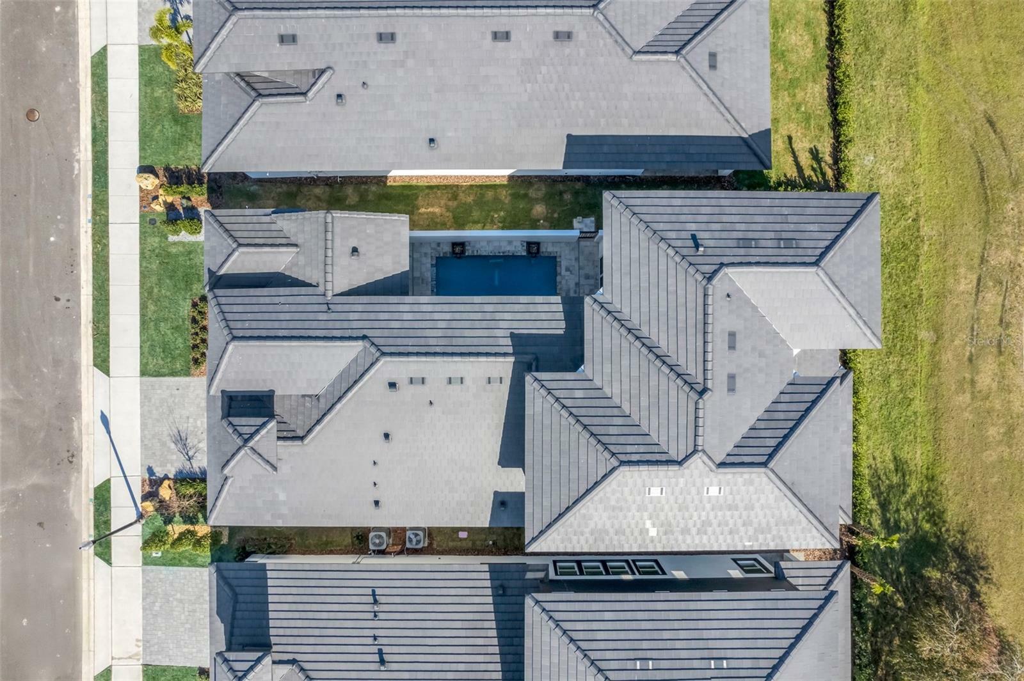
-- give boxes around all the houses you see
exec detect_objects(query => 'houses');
[192,0,773,178]
[208,552,854,681]
[202,189,885,554]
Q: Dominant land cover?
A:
buildings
